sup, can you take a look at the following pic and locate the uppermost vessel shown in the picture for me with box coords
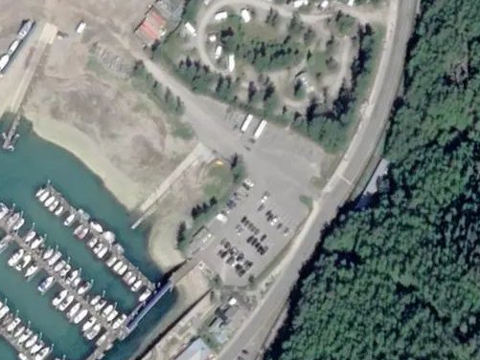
[13,20,31,39]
